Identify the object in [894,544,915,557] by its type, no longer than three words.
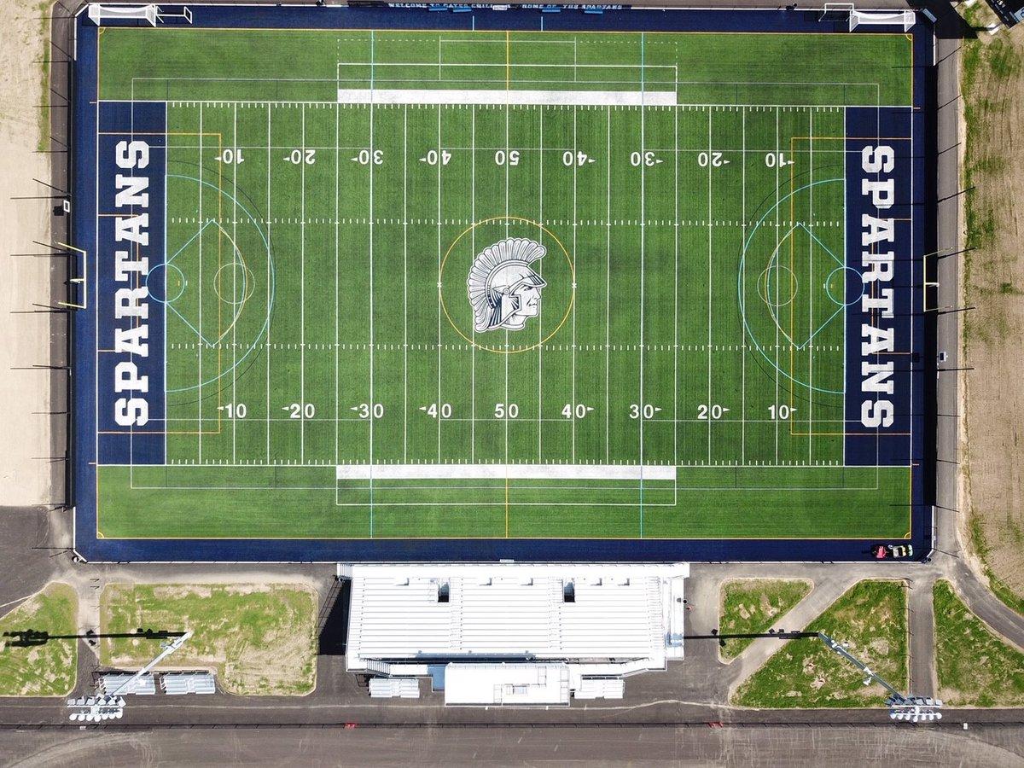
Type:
vehicle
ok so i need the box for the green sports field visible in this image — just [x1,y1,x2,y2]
[74,4,933,562]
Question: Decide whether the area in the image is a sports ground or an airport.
sports ground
